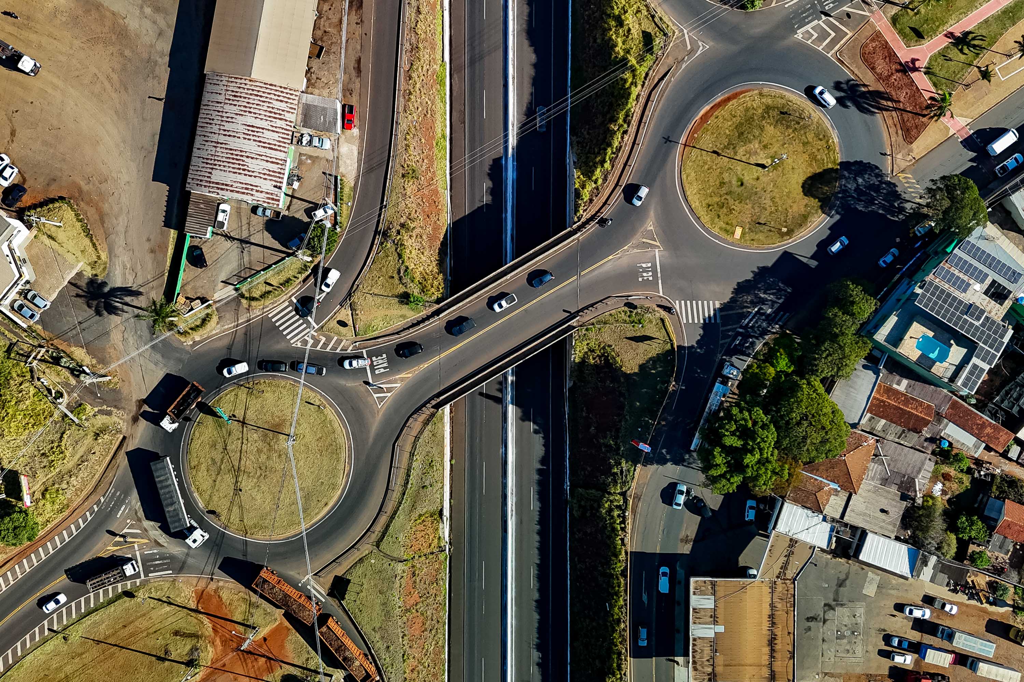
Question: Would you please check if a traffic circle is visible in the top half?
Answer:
Yes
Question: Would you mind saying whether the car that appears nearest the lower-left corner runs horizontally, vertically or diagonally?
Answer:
diagonally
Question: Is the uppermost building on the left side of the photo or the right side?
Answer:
left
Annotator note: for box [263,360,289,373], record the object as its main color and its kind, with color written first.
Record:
black vehicle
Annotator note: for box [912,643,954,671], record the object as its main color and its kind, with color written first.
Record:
white truck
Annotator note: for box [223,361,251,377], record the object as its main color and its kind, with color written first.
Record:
white vehicle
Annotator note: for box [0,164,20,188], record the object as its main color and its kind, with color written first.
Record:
white car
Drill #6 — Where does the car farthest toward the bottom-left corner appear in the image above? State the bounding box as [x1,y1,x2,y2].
[41,593,68,615]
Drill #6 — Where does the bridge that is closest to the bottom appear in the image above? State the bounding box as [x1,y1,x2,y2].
[422,220,615,403]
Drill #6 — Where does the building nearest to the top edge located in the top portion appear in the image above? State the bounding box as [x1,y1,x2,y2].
[205,0,316,95]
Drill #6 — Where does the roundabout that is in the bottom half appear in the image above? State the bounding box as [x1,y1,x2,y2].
[149,341,385,576]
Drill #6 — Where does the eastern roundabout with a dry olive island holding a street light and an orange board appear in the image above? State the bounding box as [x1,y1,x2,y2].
[632,39,885,293]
